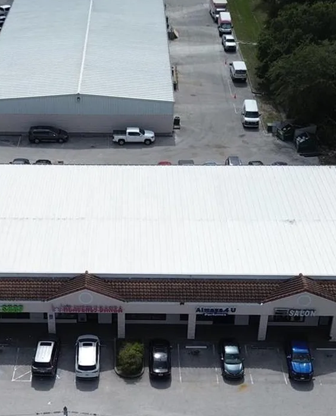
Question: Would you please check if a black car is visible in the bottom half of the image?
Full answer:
Yes, a black car shows up in the bottom half of the image.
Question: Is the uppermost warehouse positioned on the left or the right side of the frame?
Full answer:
You can find the uppermost warehouse on the left side of the picture.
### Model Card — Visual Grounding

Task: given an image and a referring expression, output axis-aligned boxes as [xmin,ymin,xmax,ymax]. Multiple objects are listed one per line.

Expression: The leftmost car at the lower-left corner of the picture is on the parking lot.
[31,338,60,383]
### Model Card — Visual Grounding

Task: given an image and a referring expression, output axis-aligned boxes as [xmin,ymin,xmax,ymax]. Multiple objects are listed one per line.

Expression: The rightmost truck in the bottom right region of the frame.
[284,338,316,385]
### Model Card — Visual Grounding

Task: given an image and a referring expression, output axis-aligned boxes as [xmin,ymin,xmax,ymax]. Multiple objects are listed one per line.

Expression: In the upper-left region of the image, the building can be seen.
[0,0,177,136]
